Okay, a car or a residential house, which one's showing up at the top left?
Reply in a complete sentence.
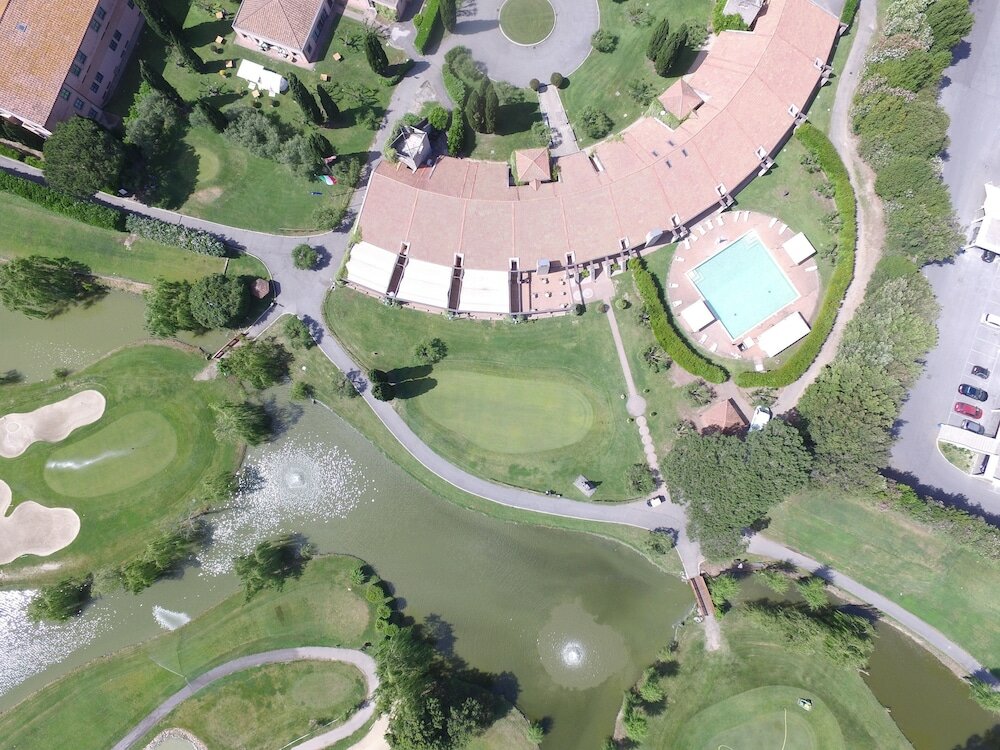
What appears at the top left is a residential house.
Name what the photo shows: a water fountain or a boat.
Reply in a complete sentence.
Visible in the photo is a water fountain.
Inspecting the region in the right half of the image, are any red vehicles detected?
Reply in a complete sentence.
Yes, you'll find a red vehicle in the right half of the image.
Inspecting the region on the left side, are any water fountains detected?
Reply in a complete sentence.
Yes, a water fountain appears on the left side.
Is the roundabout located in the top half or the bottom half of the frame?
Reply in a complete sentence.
The top half of the photo is where the roundabout is.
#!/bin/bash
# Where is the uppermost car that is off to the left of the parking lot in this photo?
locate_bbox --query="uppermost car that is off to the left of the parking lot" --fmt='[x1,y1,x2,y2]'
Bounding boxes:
[750,404,773,437]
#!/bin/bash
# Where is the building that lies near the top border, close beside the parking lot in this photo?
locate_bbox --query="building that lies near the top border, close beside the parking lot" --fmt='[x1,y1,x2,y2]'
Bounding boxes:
[356,0,844,276]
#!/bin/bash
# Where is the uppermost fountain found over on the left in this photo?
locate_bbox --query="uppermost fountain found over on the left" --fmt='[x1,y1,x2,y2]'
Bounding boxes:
[261,452,328,510]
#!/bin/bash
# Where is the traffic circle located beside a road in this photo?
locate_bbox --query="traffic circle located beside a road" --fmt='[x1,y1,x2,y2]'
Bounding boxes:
[455,0,600,88]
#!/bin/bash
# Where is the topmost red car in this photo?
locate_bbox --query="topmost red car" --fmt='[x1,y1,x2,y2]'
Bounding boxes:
[954,400,989,421]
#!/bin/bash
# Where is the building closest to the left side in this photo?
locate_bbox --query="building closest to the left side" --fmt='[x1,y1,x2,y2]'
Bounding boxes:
[0,0,140,134]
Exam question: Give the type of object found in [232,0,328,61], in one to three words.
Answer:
house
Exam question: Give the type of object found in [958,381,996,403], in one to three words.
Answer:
car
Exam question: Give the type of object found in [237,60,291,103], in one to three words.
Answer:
tent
